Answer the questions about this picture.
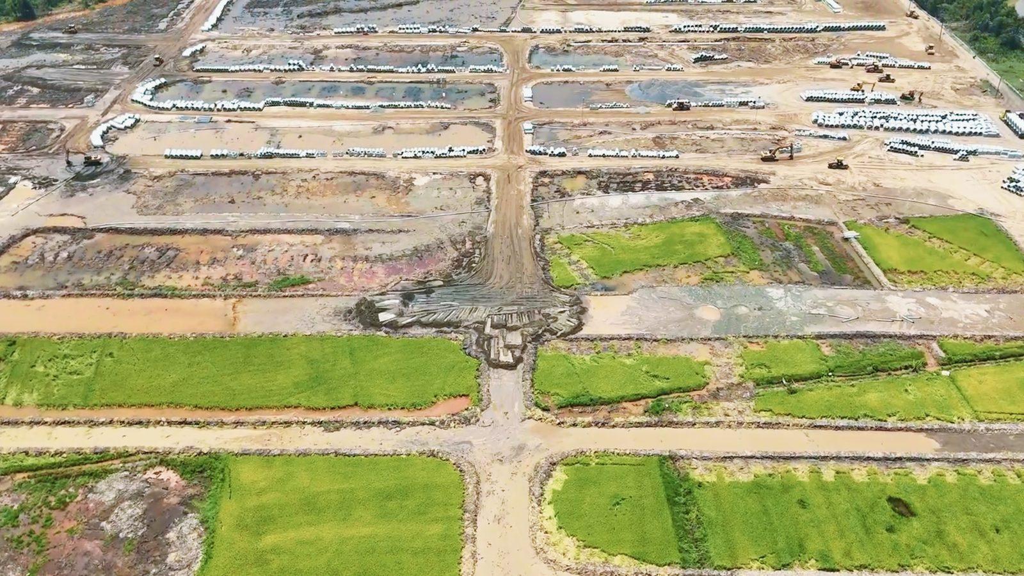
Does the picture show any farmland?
Yes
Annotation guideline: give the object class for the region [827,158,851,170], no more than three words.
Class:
vehicle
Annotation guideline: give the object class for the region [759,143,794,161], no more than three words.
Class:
work vehicle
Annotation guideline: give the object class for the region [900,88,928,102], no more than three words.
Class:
work vehicle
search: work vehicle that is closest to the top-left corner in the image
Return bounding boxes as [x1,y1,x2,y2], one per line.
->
[57,24,77,36]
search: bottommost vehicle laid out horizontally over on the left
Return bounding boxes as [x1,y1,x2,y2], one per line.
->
[64,149,103,166]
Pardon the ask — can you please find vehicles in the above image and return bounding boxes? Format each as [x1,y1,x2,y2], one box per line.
[925,44,936,55]
[57,24,77,36]
[851,79,880,93]
[669,97,694,112]
[829,56,855,69]
[900,88,928,102]
[147,56,164,67]
[907,8,921,19]
[878,73,898,83]
[866,63,885,74]
[64,149,103,166]
[759,143,794,161]
[827,158,851,170]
